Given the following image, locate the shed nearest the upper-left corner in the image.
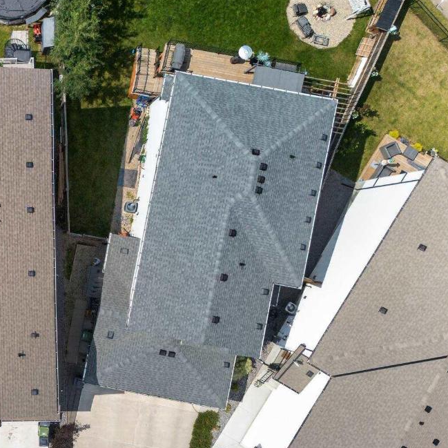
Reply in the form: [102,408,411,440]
[42,16,55,54]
